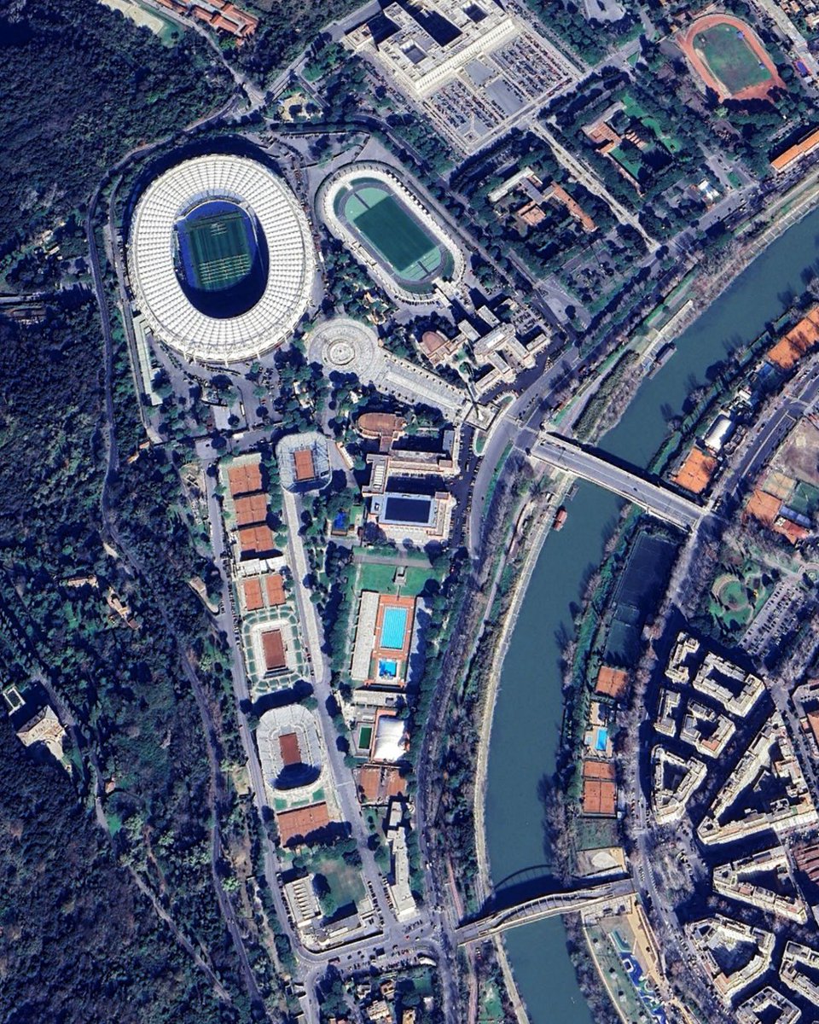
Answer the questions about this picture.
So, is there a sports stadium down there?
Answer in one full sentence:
Yes, the picture does show a sports stadium.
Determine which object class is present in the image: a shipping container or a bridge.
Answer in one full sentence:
This aerial view contains a bridge.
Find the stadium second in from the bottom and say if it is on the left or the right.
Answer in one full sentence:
It is on the left.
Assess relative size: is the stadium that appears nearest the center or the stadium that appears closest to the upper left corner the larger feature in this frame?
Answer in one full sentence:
The stadium that appears closest to the upper left corner is bigger than the stadium that appears nearest the center.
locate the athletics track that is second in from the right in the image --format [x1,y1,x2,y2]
[334,171,455,293]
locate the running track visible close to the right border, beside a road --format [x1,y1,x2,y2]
[678,11,786,102]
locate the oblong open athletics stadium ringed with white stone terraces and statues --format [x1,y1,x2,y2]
[315,152,474,312]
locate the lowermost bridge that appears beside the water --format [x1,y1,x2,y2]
[455,879,636,945]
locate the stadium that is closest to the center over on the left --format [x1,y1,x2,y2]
[277,432,332,495]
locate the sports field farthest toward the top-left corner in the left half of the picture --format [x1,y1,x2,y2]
[182,206,260,308]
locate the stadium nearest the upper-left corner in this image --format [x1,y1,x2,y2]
[128,154,317,364]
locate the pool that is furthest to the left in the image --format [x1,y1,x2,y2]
[8,685,25,711]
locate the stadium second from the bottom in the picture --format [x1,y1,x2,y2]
[245,608,311,691]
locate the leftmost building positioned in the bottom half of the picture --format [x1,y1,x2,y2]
[16,703,67,745]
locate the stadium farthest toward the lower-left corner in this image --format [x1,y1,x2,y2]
[257,703,324,796]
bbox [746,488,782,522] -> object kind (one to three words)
tennis court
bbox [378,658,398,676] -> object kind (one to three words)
swimming pool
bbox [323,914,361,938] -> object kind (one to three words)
building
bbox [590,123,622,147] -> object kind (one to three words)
building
